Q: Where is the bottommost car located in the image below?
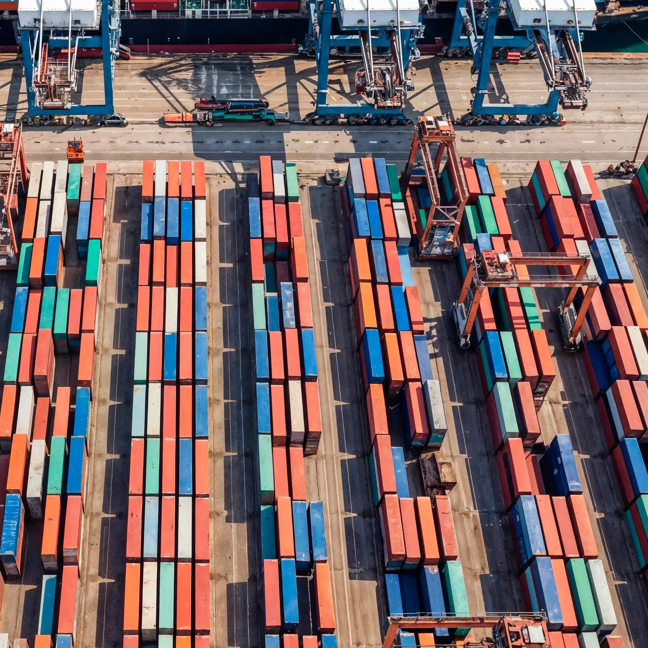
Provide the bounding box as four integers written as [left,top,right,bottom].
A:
[325,171,338,186]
